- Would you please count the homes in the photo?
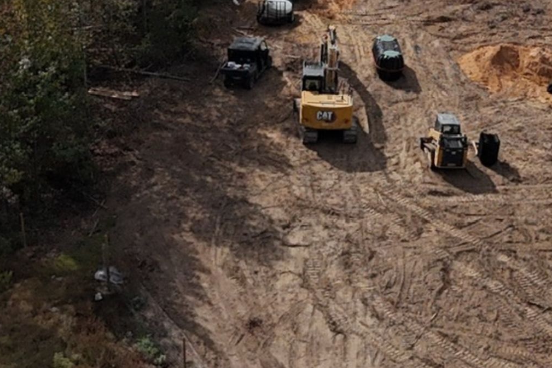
0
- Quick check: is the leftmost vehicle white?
No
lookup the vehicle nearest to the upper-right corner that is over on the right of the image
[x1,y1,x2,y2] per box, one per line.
[417,114,475,169]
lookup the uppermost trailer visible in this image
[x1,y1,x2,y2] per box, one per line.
[258,0,294,25]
